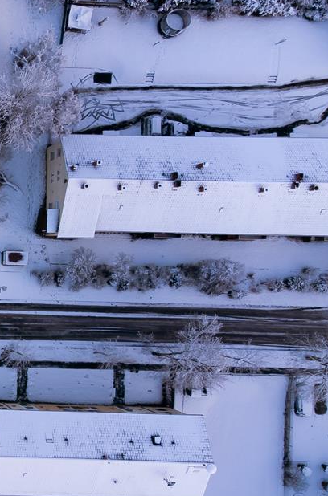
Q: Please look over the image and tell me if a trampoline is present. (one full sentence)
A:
Yes, you can see a trampoline in this photo.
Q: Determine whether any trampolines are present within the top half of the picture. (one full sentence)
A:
Yes, you'll find a trampoline within the top half of the picture.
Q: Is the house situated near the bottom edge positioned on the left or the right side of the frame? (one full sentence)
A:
The house situated near the bottom edge appears in the left half of the scene.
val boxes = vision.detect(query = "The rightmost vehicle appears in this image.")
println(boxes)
[312,388,328,420]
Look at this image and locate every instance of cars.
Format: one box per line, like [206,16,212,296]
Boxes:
[294,386,310,417]
[312,388,328,420]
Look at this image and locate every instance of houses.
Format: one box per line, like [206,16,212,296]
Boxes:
[46,135,328,252]
[0,403,217,496]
